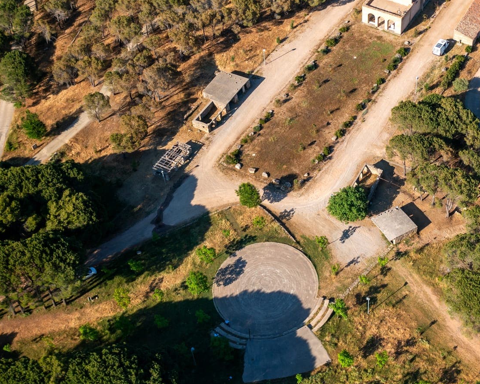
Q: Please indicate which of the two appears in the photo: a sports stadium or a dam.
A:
sports stadium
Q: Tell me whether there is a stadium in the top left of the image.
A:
No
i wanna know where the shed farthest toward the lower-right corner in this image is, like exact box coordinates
[370,207,417,249]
